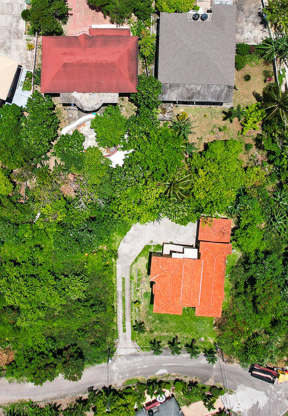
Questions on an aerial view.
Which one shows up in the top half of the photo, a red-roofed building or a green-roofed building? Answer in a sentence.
Visible in the top half of the photo is a red-roofed building.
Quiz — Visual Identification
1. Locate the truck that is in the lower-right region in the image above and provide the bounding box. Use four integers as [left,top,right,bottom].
[249,360,288,387]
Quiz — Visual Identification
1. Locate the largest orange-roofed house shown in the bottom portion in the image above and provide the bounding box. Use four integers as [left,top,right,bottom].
[150,241,232,318]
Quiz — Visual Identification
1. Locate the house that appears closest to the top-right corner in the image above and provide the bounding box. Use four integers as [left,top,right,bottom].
[158,4,237,102]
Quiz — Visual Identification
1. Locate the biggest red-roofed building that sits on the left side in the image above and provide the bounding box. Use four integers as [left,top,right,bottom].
[40,24,138,111]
